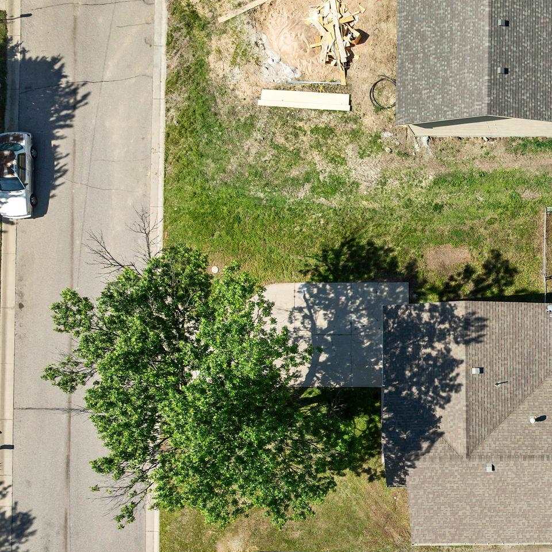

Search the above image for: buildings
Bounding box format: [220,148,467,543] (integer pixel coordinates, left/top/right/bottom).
[379,301,552,546]
[397,0,552,137]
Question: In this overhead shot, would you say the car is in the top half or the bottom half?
top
